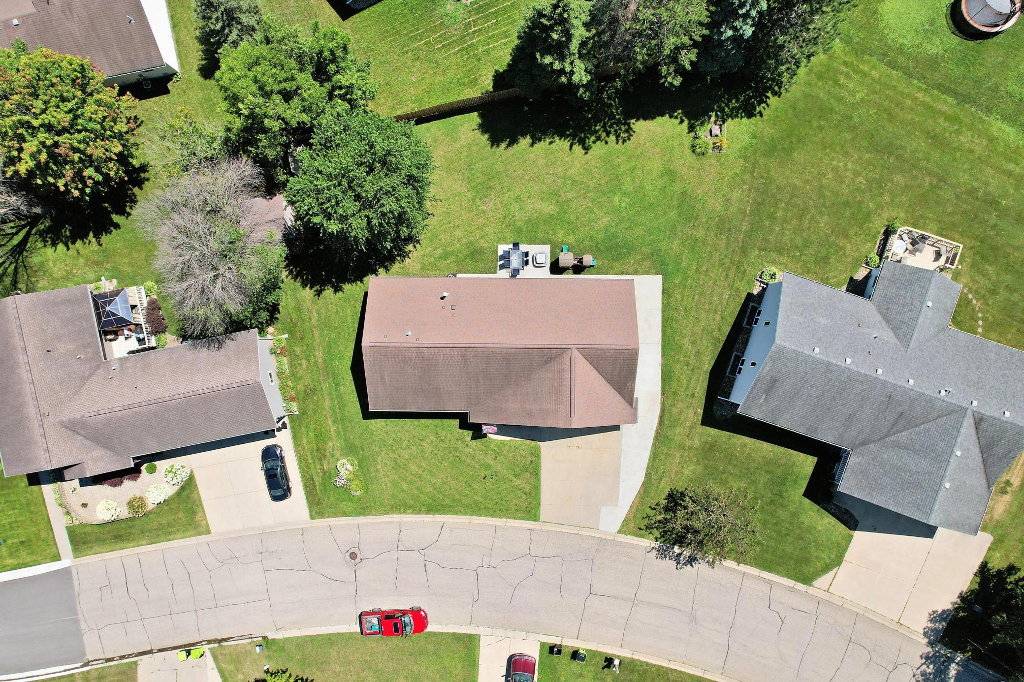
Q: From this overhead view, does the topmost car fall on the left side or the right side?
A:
left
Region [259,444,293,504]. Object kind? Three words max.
car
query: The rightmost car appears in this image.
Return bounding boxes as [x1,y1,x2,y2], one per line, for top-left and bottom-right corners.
[510,652,538,682]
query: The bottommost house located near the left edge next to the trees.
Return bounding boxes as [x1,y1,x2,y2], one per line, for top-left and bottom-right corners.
[0,285,302,480]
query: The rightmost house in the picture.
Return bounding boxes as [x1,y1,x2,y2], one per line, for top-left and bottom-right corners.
[711,259,1024,537]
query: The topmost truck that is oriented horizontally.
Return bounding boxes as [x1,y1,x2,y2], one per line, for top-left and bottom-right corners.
[358,606,429,639]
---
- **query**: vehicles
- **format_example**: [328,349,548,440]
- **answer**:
[510,652,538,682]
[259,444,293,504]
[358,606,429,639]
